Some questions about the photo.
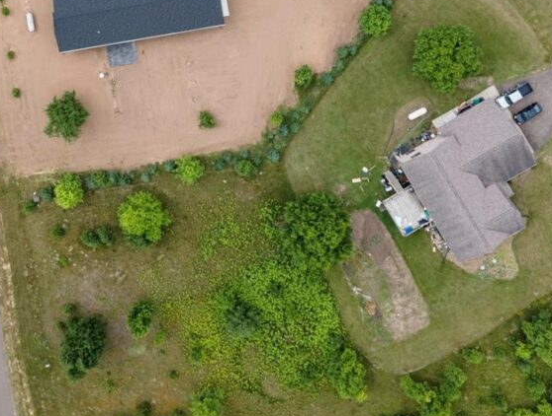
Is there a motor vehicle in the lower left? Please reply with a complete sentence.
No, no motor vehicle can be made out in the lower left.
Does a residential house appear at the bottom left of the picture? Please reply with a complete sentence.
No, I can find no residential house at the bottom left of the picture.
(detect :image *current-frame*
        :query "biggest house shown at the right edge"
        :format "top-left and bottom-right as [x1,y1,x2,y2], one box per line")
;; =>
[401,97,535,258]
